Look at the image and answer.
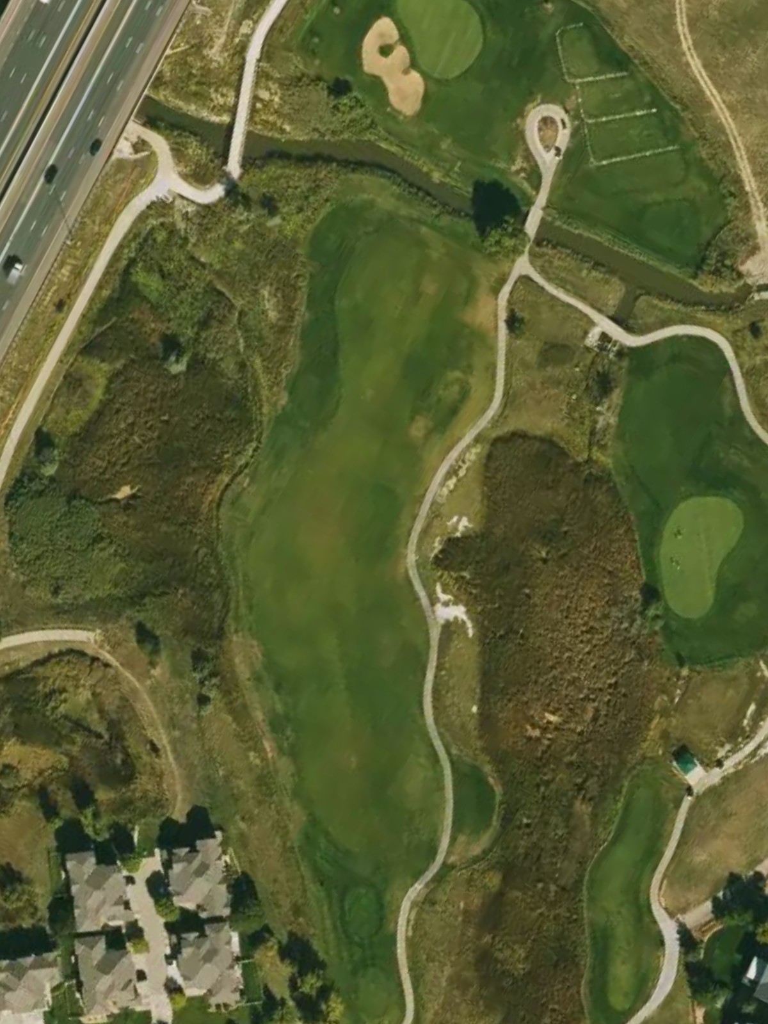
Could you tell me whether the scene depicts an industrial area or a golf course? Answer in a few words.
golf course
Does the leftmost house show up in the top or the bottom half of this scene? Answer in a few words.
bottom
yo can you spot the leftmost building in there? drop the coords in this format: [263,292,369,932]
[0,955,60,1023]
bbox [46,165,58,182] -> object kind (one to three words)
vehicle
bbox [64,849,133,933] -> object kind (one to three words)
house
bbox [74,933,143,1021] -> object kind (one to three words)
house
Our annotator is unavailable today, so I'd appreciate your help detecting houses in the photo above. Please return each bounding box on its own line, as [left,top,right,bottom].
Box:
[167,830,232,918]
[177,920,242,1007]
[0,955,60,1023]
[74,933,143,1021]
[64,849,133,933]
[746,962,768,1011]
